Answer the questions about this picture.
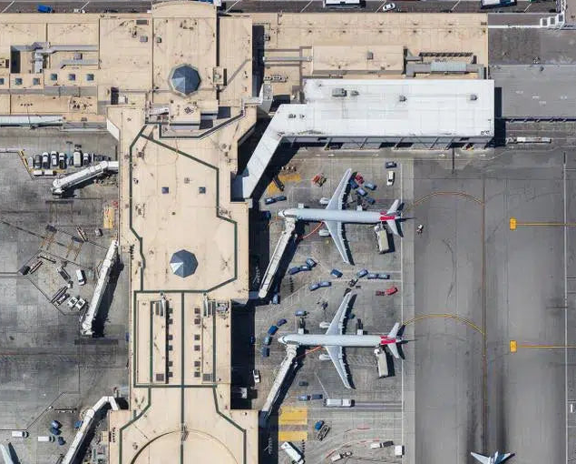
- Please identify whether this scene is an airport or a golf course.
airport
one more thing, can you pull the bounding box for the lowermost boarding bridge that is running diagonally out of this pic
[60,393,123,464]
